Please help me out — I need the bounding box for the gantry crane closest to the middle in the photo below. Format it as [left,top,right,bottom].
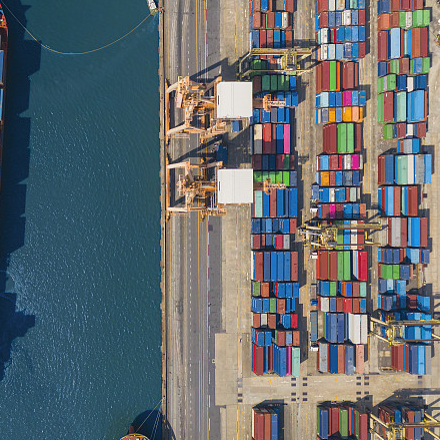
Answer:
[166,152,282,224]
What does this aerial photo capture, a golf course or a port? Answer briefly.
port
